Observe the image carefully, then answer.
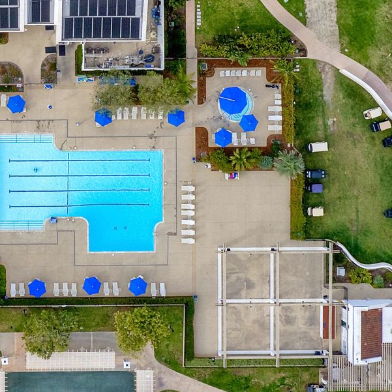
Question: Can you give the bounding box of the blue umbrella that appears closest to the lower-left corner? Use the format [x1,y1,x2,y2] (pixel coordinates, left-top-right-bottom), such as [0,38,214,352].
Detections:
[29,279,47,297]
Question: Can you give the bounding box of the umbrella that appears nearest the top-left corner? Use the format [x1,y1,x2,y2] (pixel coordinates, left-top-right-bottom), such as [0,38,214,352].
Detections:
[8,95,24,113]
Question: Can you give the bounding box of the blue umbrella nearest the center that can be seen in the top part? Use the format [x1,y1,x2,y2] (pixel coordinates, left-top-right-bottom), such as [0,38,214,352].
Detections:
[213,128,232,147]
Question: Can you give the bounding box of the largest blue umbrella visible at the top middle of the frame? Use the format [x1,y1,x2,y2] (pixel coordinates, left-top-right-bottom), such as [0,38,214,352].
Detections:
[219,88,246,116]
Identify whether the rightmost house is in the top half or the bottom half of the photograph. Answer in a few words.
bottom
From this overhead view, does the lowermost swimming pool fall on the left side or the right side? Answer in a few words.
left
